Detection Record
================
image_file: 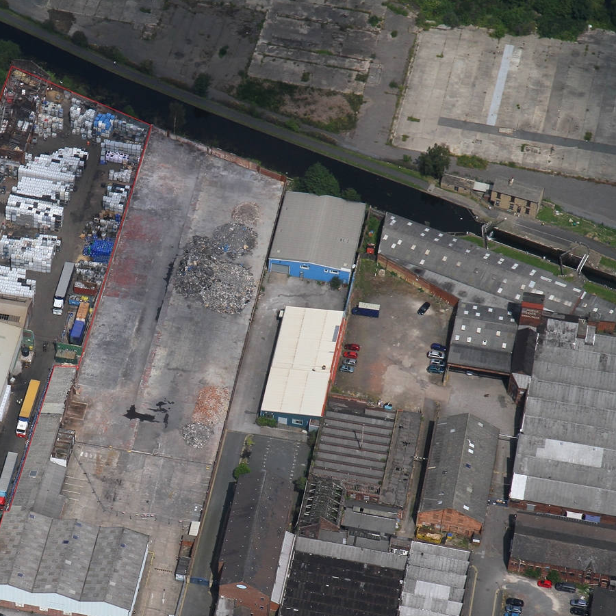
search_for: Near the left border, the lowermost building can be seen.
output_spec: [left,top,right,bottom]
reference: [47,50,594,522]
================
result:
[0,508,150,616]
